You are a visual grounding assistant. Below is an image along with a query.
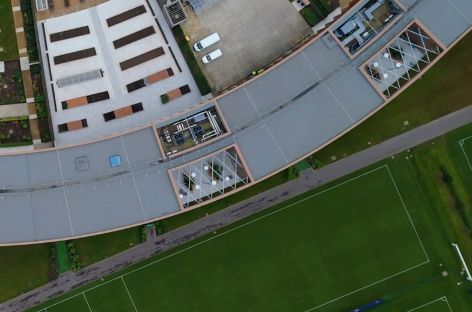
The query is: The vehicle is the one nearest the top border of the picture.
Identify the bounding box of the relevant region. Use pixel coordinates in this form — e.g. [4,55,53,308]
[195,33,222,52]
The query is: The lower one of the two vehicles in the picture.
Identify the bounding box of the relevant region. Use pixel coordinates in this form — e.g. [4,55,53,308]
[202,48,224,64]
